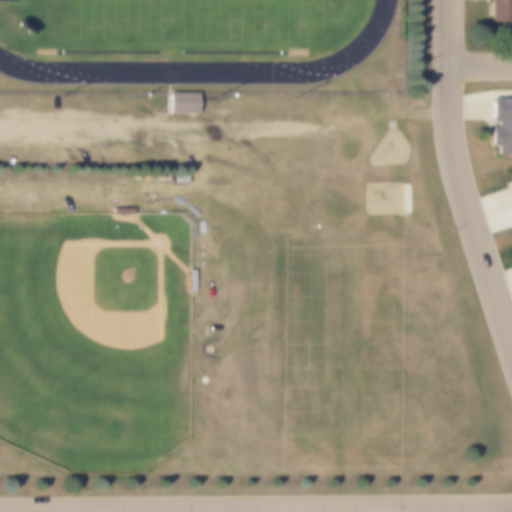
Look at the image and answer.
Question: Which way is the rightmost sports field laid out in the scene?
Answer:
from top to bottom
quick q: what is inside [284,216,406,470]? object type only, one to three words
sports field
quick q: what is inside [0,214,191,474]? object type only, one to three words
baseball field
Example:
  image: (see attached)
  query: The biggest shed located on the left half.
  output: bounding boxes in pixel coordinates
[169,92,204,114]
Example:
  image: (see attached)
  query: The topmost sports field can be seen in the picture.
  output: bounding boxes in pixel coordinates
[0,0,376,61]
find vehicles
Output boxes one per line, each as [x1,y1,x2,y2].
[210,282,216,296]
[484,254,491,266]
[35,497,49,502]
[65,196,76,210]
[54,96,60,108]
[211,324,224,330]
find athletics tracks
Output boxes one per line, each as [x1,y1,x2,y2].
[0,0,398,83]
